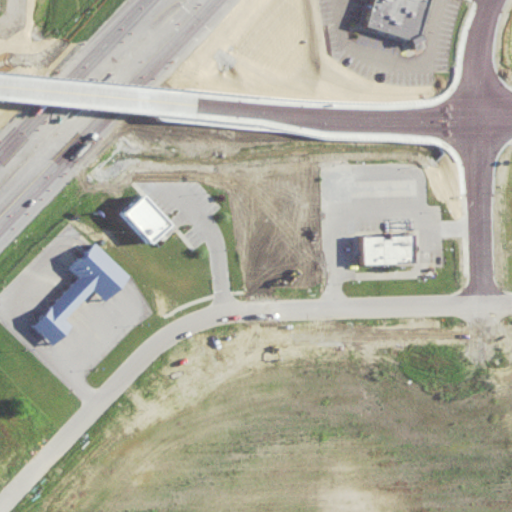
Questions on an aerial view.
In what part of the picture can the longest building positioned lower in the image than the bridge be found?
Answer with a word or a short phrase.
left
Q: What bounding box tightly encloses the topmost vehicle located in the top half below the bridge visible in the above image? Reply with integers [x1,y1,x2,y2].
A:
[72,134,98,162]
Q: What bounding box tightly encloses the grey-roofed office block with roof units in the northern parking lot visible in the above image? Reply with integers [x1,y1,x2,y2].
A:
[363,0,432,57]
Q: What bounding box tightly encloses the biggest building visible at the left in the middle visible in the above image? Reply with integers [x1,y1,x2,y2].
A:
[32,244,130,344]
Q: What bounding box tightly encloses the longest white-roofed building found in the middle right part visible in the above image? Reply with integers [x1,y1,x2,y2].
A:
[360,235,416,266]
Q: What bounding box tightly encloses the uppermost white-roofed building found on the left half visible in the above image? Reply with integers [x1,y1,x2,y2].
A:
[122,196,174,244]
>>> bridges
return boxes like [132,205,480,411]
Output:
[0,74,198,121]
